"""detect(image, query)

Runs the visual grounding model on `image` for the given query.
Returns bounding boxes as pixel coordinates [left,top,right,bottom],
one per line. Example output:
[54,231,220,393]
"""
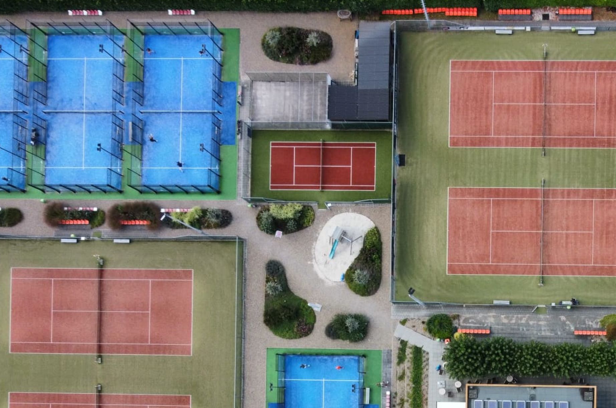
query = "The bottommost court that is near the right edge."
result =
[446,179,616,283]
